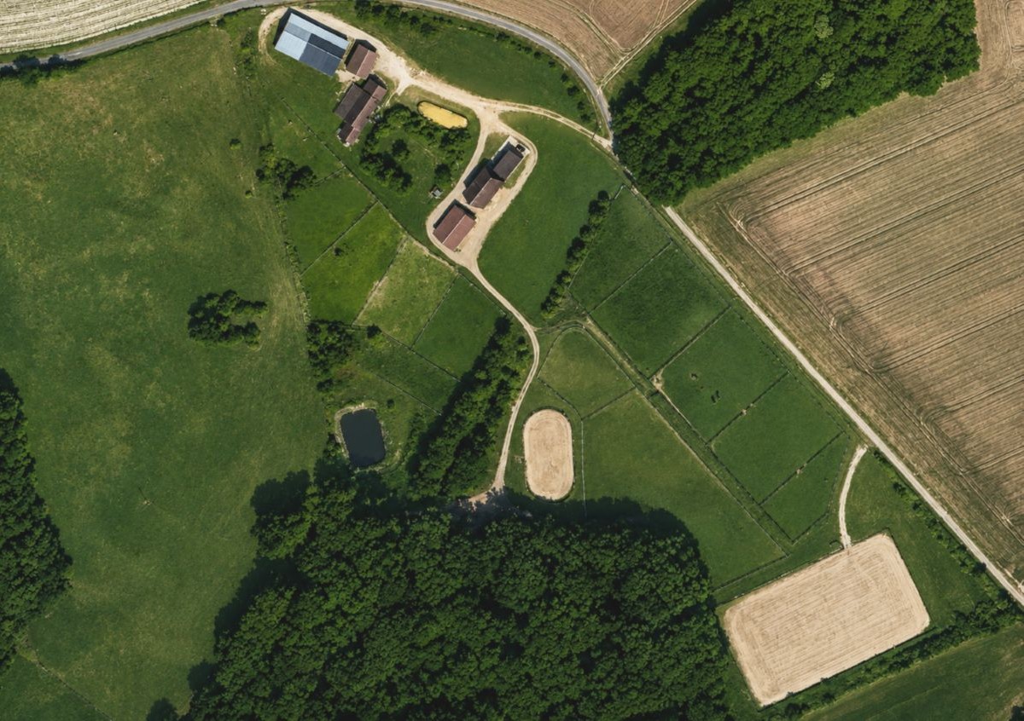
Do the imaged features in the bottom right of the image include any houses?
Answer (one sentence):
No, I can find no house in the bottom right of the image.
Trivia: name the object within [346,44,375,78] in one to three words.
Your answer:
house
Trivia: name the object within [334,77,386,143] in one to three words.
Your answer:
house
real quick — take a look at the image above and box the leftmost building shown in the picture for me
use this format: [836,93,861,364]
[274,12,349,75]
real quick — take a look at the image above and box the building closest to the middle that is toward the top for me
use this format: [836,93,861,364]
[434,205,475,250]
